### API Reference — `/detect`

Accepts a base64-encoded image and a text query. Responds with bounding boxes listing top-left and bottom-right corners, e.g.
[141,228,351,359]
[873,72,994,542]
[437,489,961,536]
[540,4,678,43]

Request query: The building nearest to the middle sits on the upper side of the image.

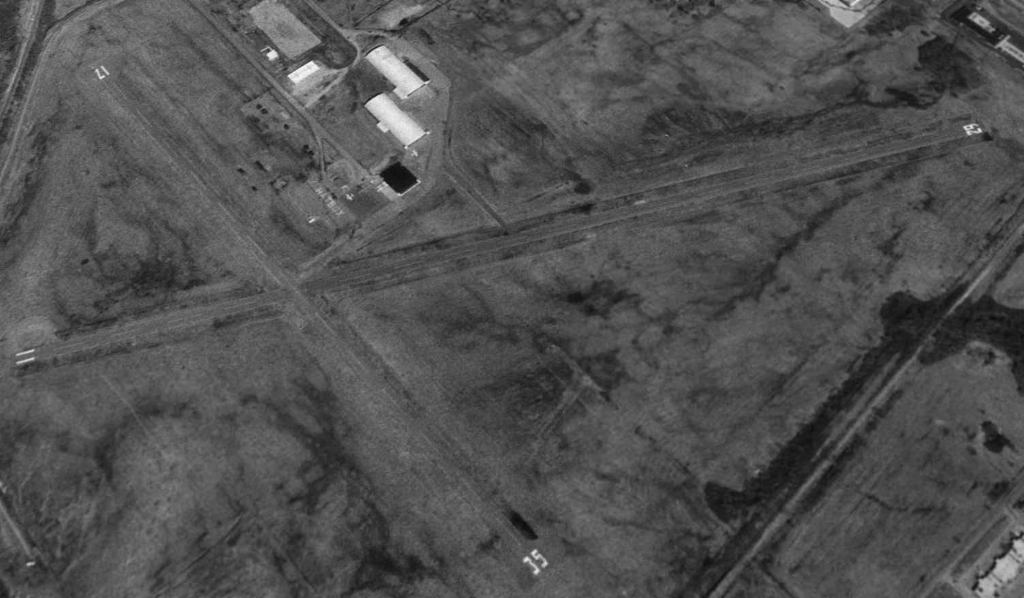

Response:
[380,161,422,199]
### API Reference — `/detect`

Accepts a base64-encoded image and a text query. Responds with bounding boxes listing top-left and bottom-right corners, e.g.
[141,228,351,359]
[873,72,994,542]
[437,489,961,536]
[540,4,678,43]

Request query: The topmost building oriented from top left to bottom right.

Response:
[950,5,1009,49]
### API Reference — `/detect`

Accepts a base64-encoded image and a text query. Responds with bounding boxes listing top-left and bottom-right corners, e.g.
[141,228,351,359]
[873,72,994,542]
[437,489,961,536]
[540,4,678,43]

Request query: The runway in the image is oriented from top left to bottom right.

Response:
[76,49,584,598]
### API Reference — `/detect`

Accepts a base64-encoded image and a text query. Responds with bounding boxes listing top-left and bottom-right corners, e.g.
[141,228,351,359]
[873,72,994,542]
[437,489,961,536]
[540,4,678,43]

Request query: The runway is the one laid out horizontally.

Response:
[10,119,1001,373]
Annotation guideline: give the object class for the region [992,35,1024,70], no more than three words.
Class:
building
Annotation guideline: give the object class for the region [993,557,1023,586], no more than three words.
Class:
building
